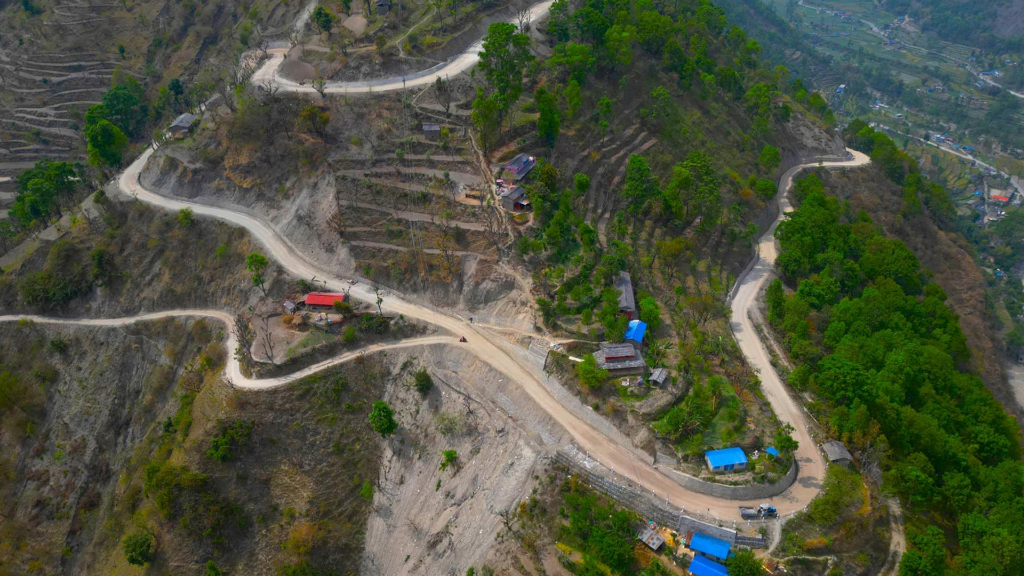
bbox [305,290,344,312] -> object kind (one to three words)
house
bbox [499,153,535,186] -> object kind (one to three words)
house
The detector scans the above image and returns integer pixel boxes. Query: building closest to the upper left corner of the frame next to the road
[169,119,198,137]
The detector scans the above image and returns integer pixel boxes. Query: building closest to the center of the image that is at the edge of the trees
[496,184,531,210]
